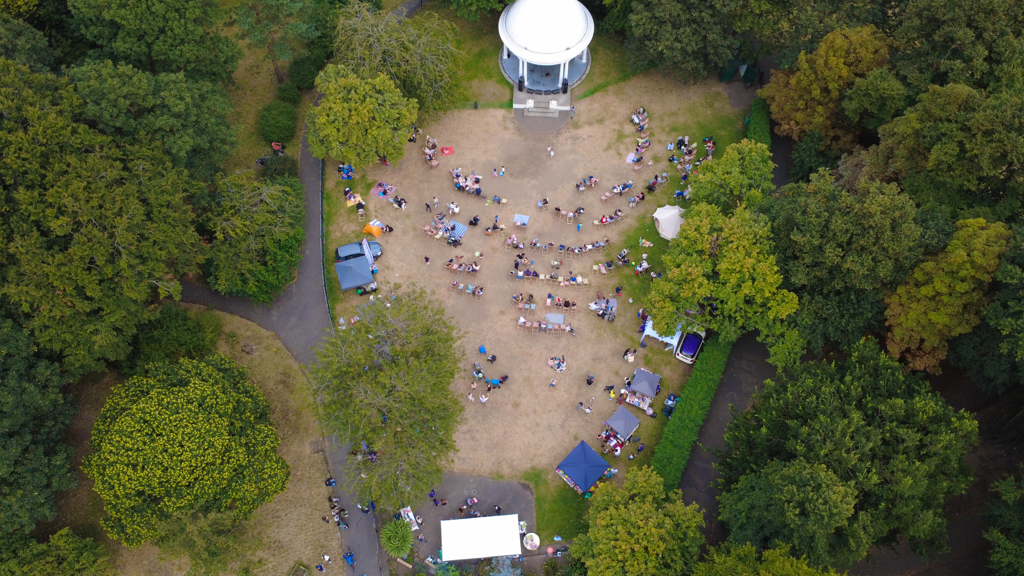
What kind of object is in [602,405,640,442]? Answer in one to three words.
gazebo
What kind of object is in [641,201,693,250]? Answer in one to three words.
tent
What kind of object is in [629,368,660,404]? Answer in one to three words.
gazebo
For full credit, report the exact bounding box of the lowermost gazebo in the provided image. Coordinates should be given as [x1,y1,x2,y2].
[442,513,523,562]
